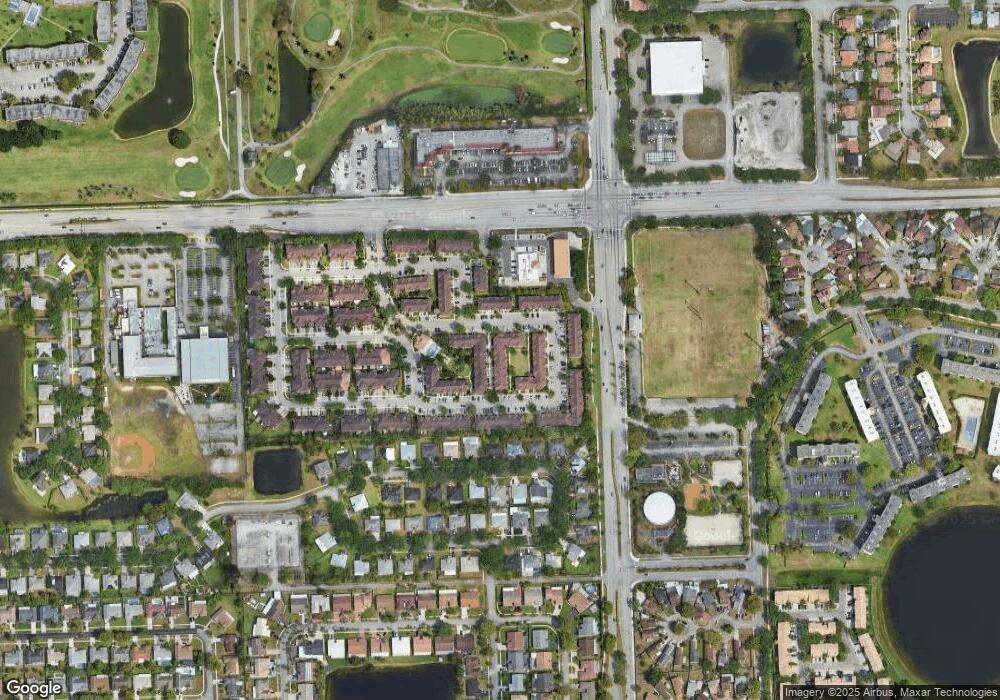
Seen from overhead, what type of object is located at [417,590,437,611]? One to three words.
house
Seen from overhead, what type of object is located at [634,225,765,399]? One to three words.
sports field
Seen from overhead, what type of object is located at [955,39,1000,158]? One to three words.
pond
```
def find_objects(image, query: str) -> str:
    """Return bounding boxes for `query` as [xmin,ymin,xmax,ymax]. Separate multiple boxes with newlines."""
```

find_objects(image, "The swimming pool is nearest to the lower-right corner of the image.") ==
[953,396,985,449]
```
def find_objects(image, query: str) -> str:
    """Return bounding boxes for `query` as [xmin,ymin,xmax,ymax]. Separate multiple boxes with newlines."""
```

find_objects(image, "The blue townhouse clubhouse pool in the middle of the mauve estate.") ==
[422,340,439,358]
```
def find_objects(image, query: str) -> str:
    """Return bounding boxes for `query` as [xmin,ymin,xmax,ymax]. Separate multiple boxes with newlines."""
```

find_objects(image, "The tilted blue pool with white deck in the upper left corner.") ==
[22,4,42,27]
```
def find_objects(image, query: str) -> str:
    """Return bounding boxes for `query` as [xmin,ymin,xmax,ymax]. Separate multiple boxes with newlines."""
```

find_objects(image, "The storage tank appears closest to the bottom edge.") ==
[644,492,677,524]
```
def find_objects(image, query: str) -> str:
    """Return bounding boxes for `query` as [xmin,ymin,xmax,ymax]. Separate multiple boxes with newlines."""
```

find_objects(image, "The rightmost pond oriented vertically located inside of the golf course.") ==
[278,35,312,131]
